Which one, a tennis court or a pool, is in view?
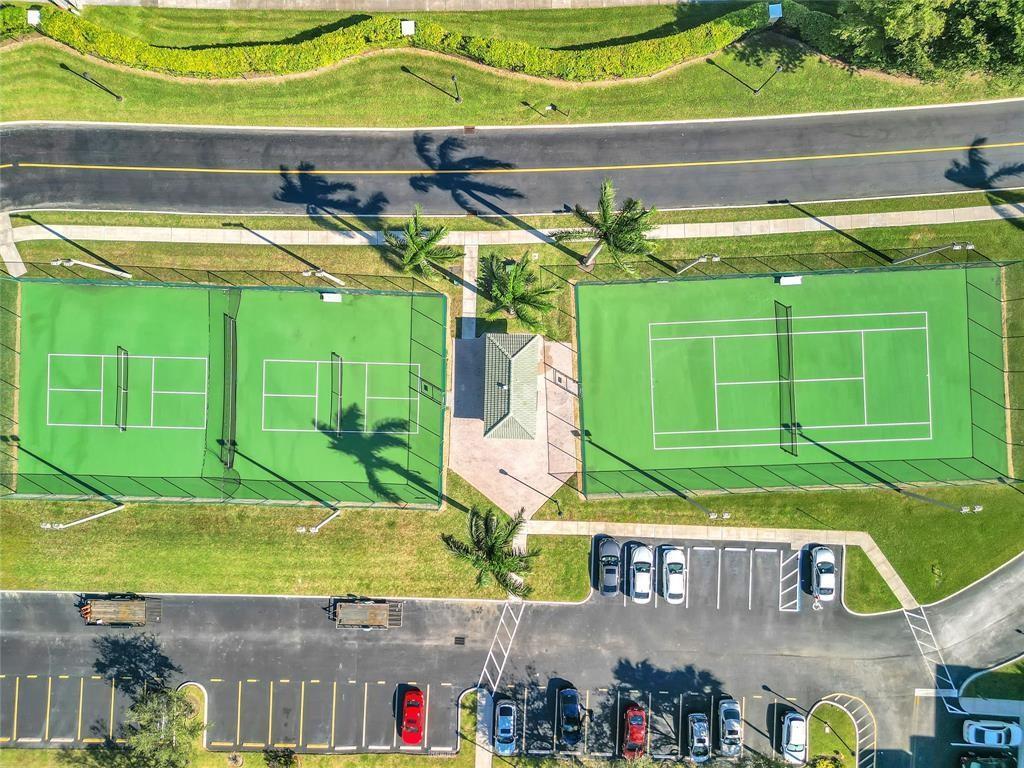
tennis court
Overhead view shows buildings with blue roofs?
No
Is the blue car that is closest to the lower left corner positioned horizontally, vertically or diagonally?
vertically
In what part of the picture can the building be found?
center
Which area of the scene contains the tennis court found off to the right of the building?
right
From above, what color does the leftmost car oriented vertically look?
red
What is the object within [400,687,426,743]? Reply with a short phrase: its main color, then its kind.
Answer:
red car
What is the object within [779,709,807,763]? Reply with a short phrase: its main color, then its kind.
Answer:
white car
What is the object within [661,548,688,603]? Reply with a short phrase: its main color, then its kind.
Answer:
white car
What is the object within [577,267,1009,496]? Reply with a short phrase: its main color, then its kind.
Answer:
green tennis court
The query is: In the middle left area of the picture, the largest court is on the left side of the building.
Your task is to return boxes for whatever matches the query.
[17,283,445,504]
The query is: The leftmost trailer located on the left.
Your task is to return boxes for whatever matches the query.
[73,597,162,629]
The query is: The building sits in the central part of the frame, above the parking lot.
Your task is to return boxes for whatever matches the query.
[483,332,539,440]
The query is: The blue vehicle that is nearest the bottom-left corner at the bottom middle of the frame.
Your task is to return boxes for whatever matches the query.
[493,696,518,753]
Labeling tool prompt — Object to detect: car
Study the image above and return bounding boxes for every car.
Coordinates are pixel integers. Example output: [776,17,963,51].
[558,685,583,743]
[661,548,688,603]
[963,718,1022,748]
[717,696,745,754]
[597,538,623,595]
[808,545,837,600]
[779,709,807,763]
[629,545,655,602]
[622,703,647,758]
[961,749,1020,768]
[400,687,426,743]
[686,709,712,760]
[493,696,518,753]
